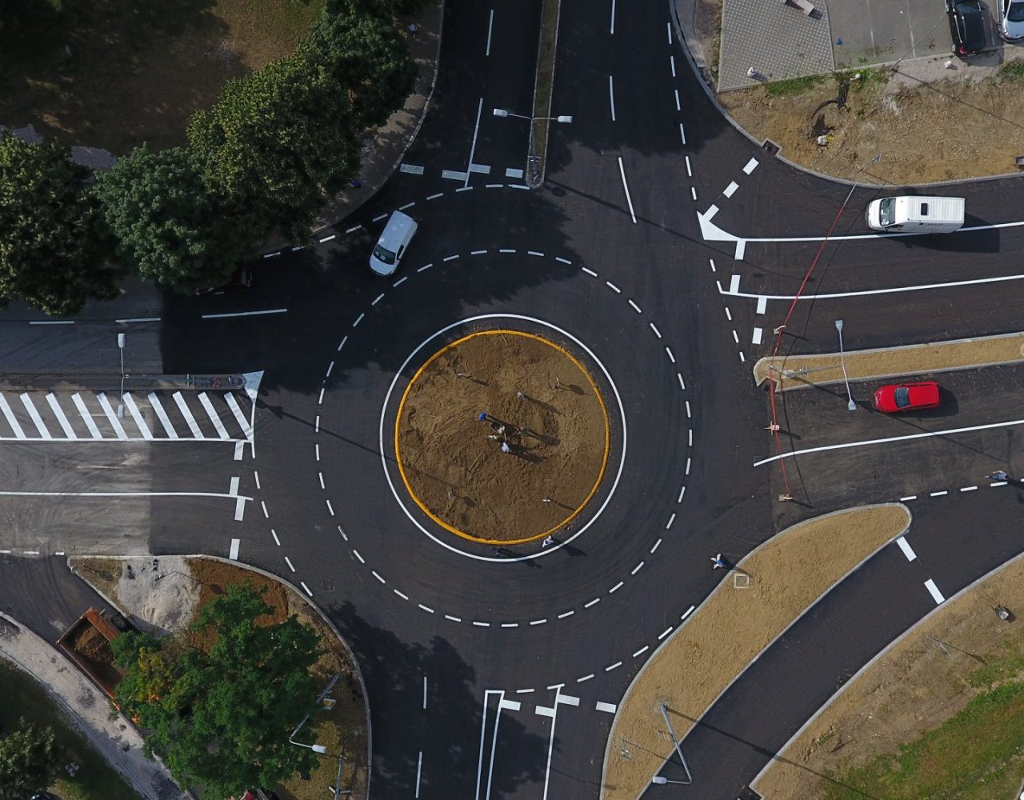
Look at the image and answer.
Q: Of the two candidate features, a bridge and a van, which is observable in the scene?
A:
van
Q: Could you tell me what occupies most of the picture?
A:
paved ground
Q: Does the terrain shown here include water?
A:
No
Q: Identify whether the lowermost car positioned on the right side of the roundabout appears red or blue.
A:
red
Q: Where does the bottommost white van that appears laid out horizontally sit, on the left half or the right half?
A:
right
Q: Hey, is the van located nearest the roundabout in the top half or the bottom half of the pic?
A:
top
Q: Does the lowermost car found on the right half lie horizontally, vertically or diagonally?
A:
horizontally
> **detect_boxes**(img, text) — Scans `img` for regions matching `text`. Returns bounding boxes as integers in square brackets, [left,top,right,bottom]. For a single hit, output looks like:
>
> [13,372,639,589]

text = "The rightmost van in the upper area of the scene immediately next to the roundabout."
[368,210,419,279]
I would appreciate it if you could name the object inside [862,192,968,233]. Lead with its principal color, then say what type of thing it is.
white van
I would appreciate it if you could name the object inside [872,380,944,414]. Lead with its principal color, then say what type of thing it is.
red car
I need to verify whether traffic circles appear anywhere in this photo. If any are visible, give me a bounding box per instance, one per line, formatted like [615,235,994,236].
[317,250,692,626]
